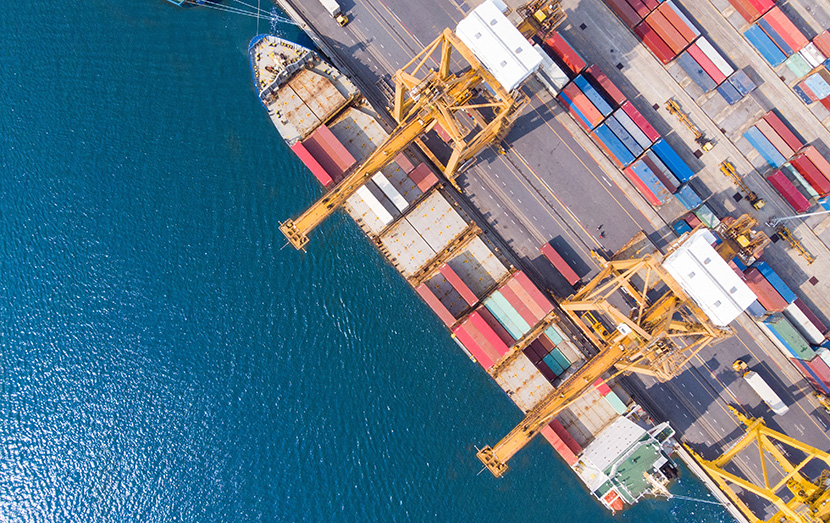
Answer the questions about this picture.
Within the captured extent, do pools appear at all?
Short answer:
No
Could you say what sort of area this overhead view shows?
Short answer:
port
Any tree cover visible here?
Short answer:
No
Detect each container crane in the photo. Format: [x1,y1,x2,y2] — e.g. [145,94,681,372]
[469,209,772,485]
[270,0,571,260]
[682,402,830,523]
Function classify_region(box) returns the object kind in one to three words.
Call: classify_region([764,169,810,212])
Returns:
shipping container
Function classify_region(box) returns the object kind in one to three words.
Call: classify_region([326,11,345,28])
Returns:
vehicle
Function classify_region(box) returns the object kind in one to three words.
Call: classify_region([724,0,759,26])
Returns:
shipping container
